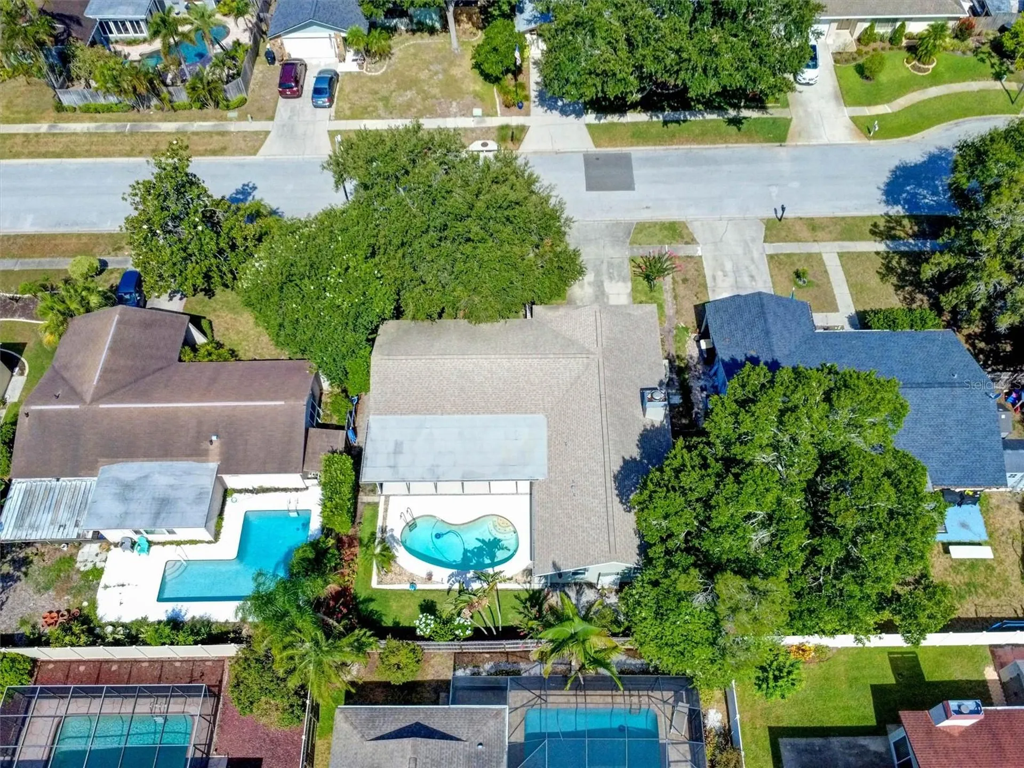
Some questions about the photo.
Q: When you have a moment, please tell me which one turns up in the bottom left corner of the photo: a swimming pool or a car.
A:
swimming pool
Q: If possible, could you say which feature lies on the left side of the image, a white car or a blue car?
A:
blue car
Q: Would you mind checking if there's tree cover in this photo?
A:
Yes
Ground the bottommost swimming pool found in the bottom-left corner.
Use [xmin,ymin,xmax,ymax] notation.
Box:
[44,701,197,768]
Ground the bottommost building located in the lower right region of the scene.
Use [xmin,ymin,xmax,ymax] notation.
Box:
[894,699,1024,768]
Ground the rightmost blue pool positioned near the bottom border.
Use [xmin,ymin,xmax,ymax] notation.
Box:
[518,695,667,768]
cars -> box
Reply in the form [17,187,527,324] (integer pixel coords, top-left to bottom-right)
[278,61,307,95]
[789,42,819,81]
[311,71,339,105]
[115,247,152,302]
